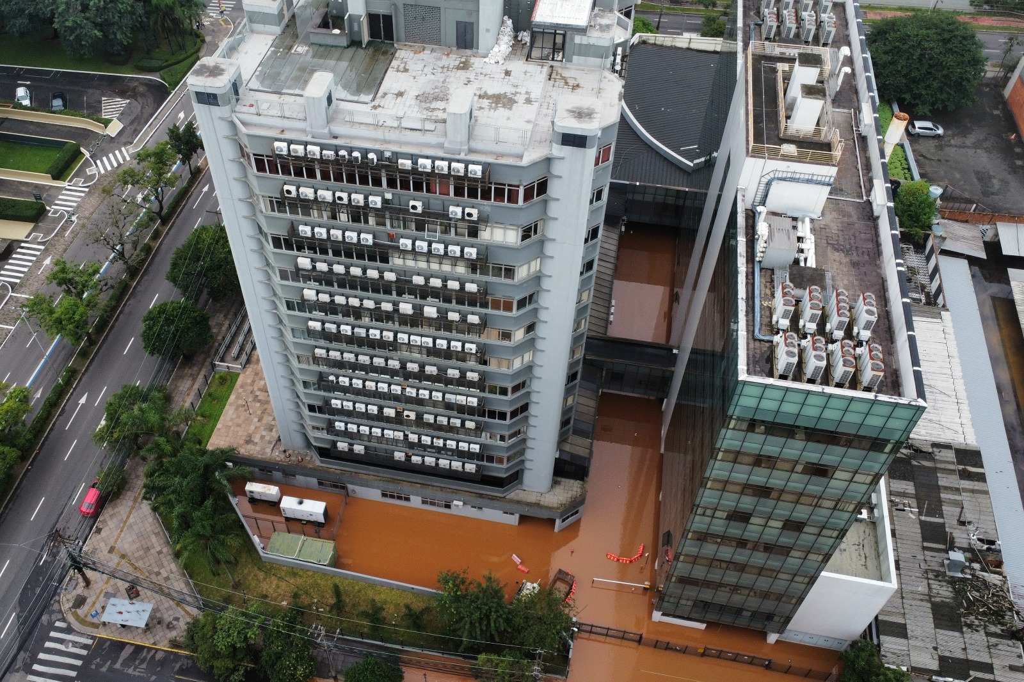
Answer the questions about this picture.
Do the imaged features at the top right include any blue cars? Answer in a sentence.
No, looking at the top right, there is no blue car.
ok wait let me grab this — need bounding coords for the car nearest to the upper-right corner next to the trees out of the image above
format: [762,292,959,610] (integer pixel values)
[907,117,945,137]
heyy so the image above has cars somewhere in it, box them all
[75,479,109,521]
[11,86,36,104]
[47,90,72,110]
[907,117,945,137]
